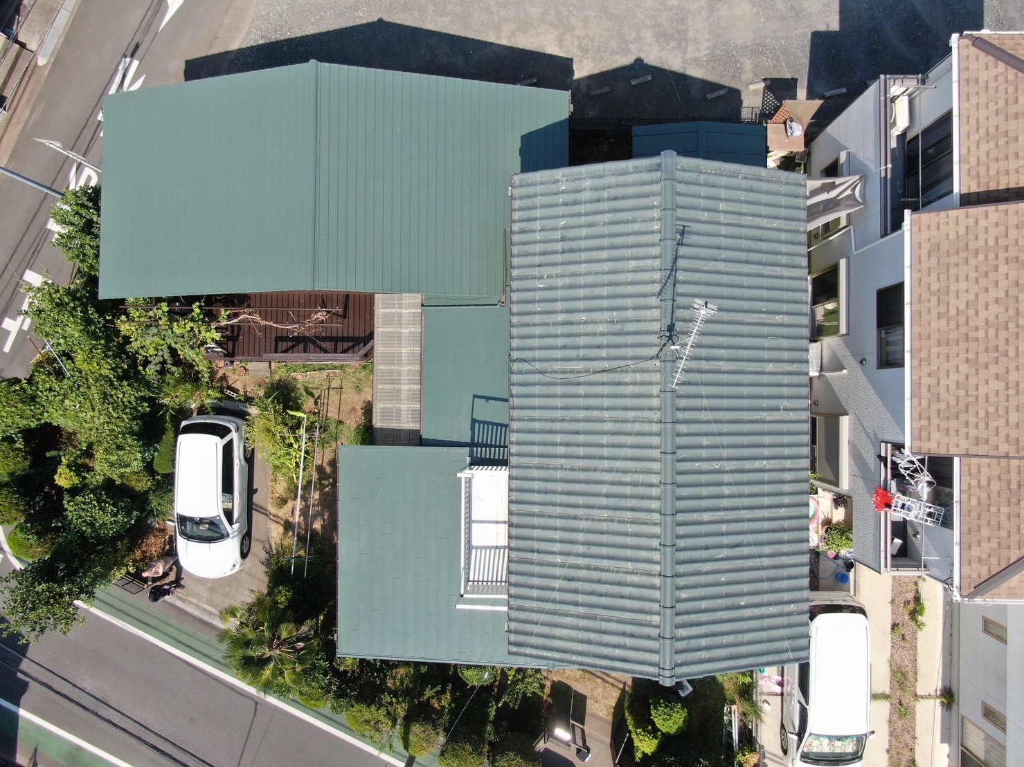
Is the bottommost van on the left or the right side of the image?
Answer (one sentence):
The bottommost van appears in the right half of the scene.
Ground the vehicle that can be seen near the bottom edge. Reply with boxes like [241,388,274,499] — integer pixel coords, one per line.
[776,589,877,767]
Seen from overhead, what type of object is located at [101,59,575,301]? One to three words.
building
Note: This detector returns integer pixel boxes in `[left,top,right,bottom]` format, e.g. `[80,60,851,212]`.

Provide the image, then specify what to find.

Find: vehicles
[776,589,877,767]
[170,413,262,582]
